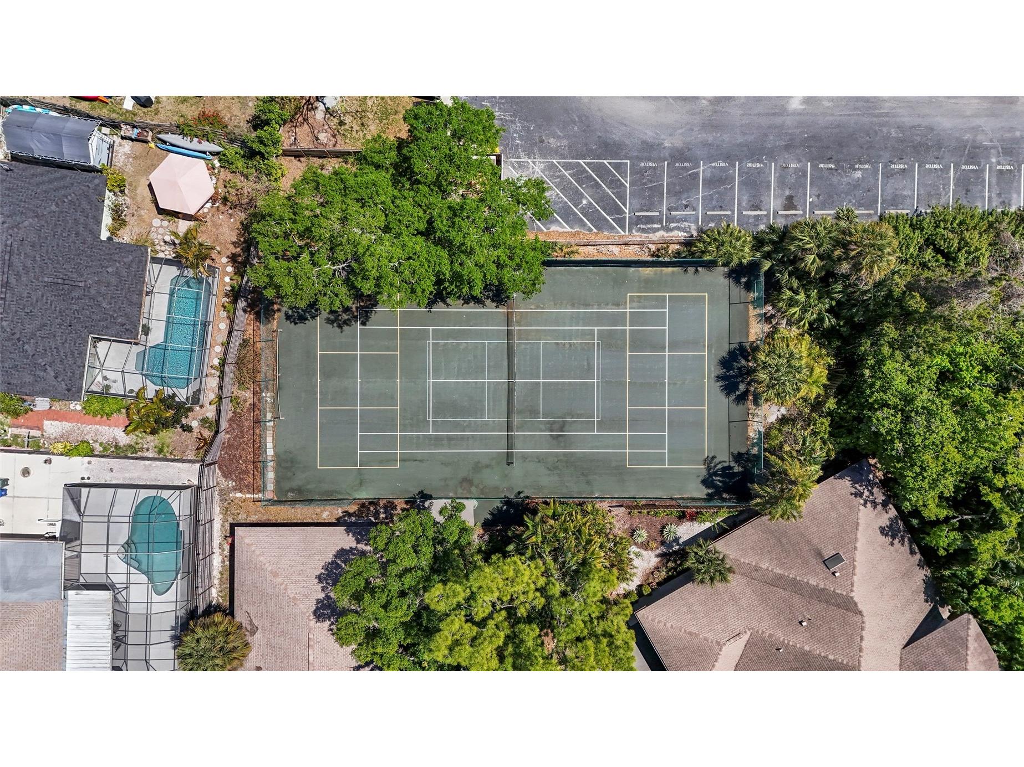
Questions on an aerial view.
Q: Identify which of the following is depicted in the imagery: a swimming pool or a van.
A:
swimming pool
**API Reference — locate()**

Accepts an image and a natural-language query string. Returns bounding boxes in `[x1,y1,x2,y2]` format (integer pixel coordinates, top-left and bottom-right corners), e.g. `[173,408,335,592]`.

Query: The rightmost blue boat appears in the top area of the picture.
[155,144,210,157]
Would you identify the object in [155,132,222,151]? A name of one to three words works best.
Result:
boat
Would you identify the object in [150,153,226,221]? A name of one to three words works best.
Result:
gazebo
